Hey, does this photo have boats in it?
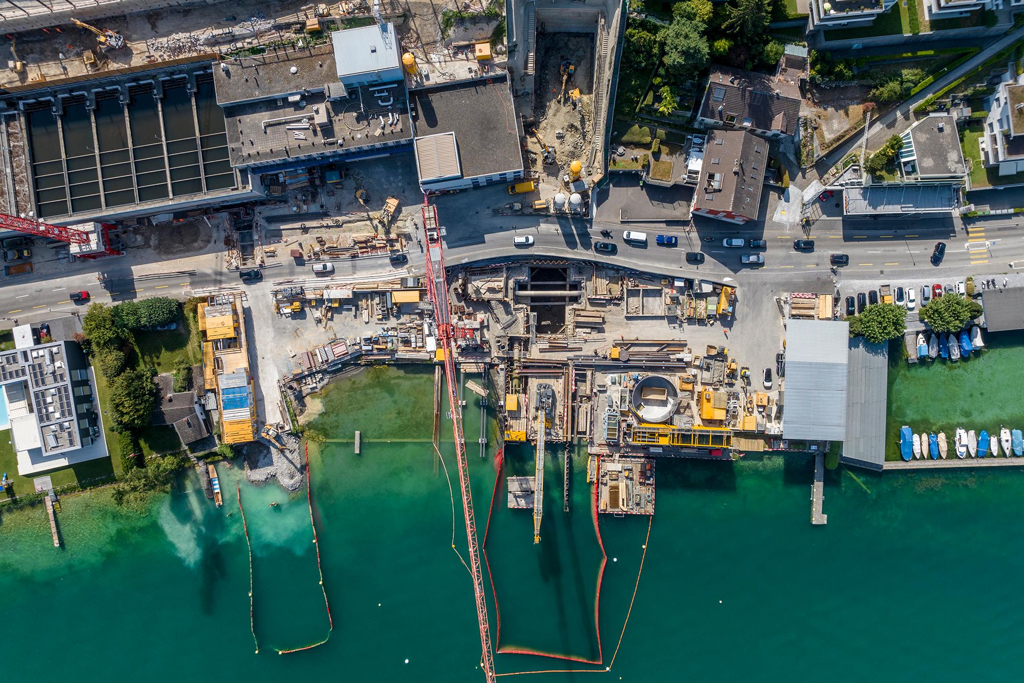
Yes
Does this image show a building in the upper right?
Yes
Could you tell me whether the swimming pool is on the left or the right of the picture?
left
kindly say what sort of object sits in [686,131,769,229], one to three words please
house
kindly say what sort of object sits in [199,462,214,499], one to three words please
pier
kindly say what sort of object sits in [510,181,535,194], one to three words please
vehicle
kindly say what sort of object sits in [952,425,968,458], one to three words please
boat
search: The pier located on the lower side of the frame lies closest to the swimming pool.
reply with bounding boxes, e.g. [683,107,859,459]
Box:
[45,495,60,546]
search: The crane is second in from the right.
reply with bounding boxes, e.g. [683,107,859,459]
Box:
[419,196,498,683]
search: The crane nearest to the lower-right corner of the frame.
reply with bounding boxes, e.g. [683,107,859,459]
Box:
[530,381,556,541]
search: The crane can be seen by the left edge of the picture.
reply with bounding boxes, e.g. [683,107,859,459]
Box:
[0,210,131,263]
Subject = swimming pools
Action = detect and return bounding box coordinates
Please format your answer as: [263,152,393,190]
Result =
[0,383,21,433]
